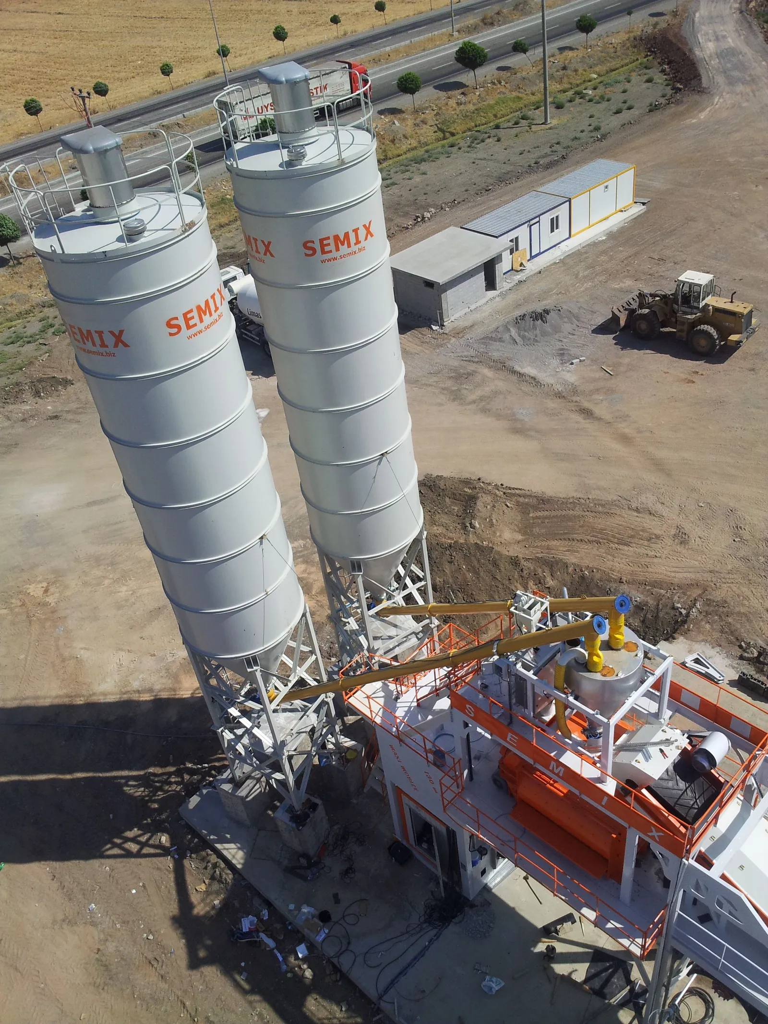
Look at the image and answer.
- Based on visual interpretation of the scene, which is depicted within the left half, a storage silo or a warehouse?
storage silo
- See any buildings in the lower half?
No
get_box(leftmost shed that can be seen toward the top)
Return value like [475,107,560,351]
[391,231,514,319]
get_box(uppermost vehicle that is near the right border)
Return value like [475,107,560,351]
[591,270,760,357]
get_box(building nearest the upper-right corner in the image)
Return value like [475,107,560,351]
[538,158,635,236]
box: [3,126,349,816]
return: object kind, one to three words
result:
silo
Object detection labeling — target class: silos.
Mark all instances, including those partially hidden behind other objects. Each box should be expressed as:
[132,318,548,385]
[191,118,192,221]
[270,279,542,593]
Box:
[3,126,349,816]
[208,61,455,684]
